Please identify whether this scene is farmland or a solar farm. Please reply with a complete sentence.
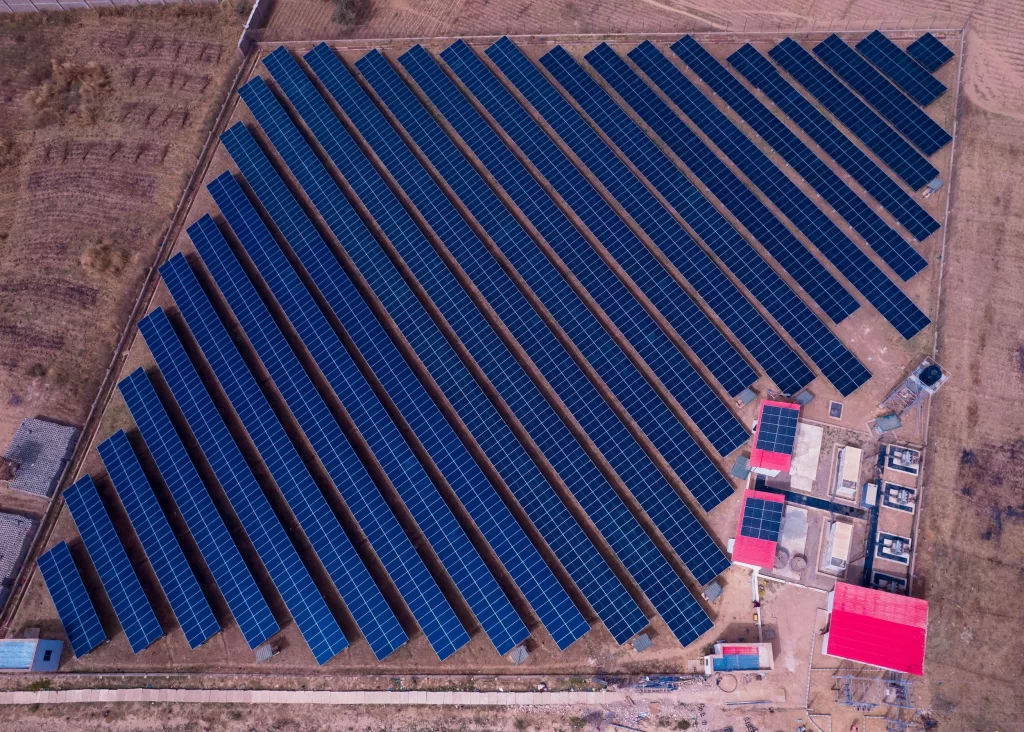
This looks like a solar farm.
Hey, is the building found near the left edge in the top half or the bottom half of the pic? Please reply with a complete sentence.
The building found near the left edge sits in the bottom half of the picture.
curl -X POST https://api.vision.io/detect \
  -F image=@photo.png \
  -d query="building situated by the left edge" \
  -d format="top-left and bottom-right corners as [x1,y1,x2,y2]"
[0,639,62,672]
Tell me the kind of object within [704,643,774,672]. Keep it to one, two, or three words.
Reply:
building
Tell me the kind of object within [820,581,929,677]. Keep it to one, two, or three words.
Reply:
shed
